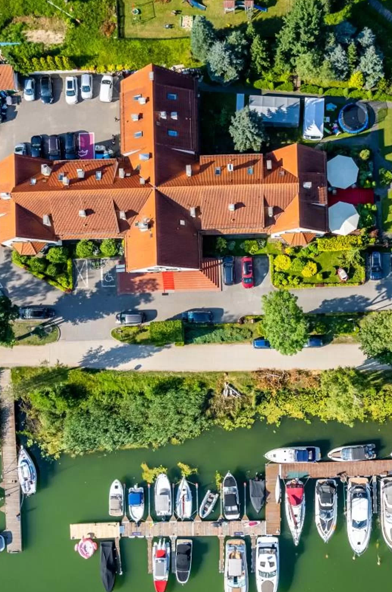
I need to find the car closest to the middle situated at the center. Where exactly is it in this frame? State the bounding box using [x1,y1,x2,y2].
[181,308,214,324]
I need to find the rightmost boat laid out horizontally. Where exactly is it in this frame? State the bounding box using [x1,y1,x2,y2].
[328,443,380,463]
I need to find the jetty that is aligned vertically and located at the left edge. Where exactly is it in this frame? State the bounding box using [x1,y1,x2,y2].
[0,370,22,553]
